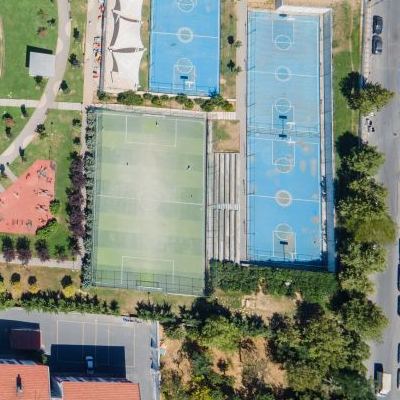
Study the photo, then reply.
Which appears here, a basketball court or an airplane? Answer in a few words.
basketball court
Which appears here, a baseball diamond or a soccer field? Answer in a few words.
soccer field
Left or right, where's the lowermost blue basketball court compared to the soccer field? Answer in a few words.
right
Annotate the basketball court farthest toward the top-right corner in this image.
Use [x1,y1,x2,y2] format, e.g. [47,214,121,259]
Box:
[248,11,322,136]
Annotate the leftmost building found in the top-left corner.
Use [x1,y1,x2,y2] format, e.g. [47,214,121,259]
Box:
[28,52,56,78]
